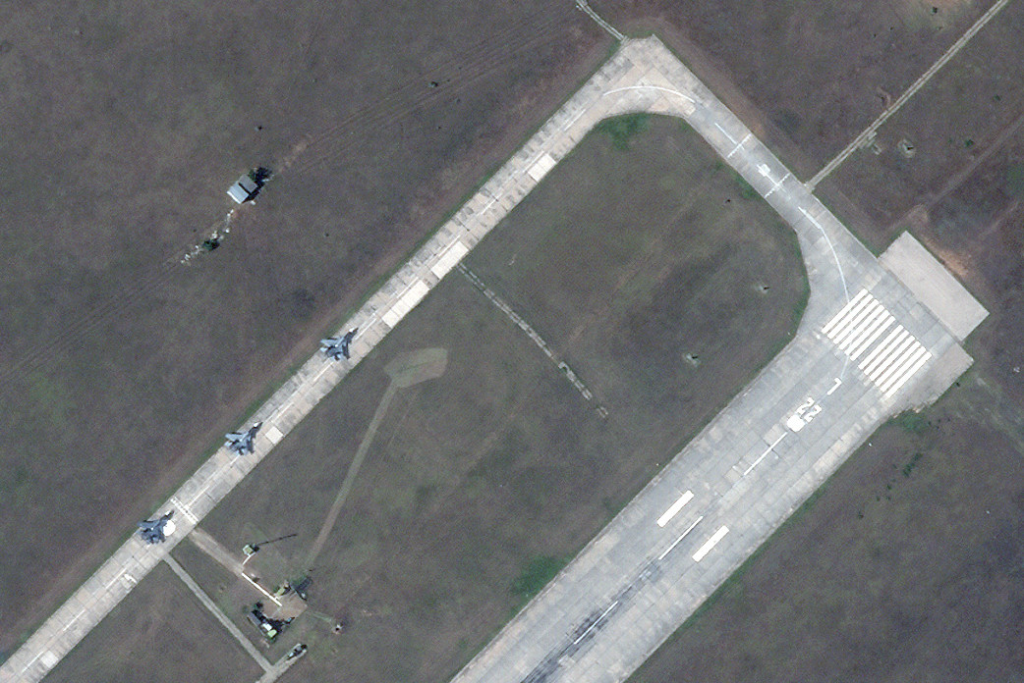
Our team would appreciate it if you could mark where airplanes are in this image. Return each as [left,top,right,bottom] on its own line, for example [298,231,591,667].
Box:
[318,327,354,364]
[221,422,258,460]
[135,511,169,547]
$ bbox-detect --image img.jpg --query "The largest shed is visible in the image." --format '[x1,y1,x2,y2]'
[227,174,257,204]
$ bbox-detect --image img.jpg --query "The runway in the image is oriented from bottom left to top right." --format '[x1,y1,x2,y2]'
[452,258,955,683]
